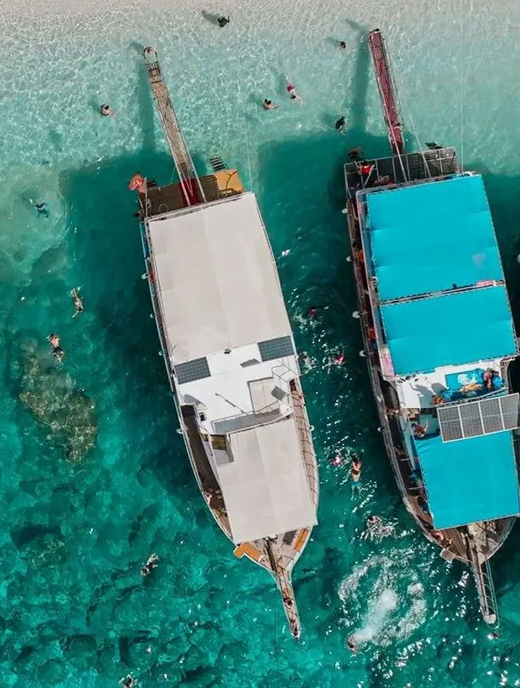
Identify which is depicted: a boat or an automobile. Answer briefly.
boat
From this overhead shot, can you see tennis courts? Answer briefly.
No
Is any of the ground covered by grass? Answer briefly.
No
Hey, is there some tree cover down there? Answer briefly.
No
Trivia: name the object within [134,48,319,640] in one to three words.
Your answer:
boat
